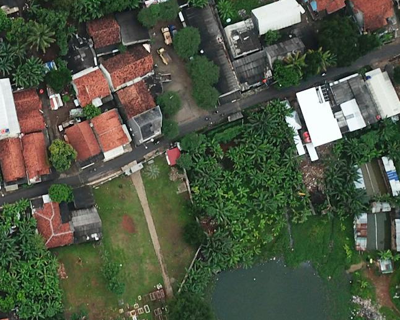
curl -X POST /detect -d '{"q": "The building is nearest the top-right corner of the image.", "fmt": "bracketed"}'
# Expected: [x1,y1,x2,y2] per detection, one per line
[355,0,397,30]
